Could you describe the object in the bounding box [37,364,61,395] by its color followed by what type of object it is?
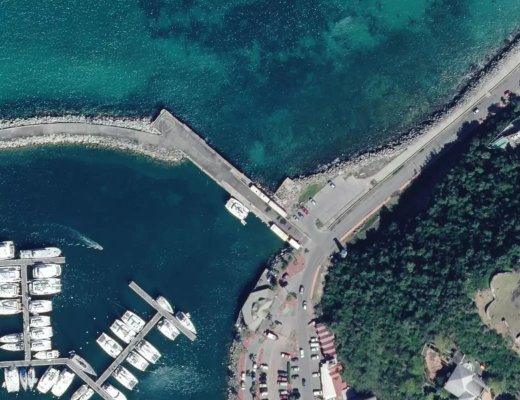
white boat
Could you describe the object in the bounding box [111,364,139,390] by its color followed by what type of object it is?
white boat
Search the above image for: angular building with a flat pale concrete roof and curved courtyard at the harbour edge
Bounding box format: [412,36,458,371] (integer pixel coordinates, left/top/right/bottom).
[241,288,276,331]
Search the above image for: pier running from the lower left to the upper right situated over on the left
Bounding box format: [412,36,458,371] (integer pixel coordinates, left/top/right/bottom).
[95,312,163,386]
